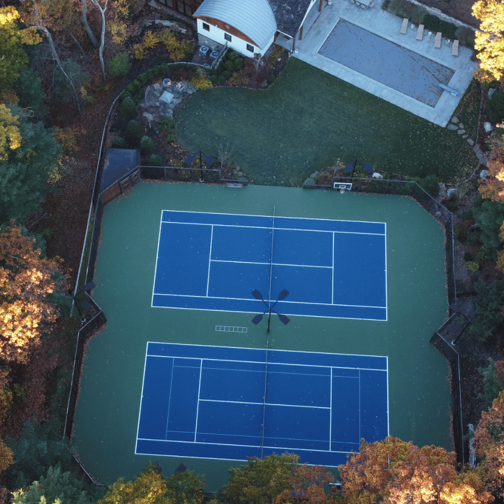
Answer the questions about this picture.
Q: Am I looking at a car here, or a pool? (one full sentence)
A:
The image shows a pool.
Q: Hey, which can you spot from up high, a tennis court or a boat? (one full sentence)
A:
Looking from above, you can make out a tennis court.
